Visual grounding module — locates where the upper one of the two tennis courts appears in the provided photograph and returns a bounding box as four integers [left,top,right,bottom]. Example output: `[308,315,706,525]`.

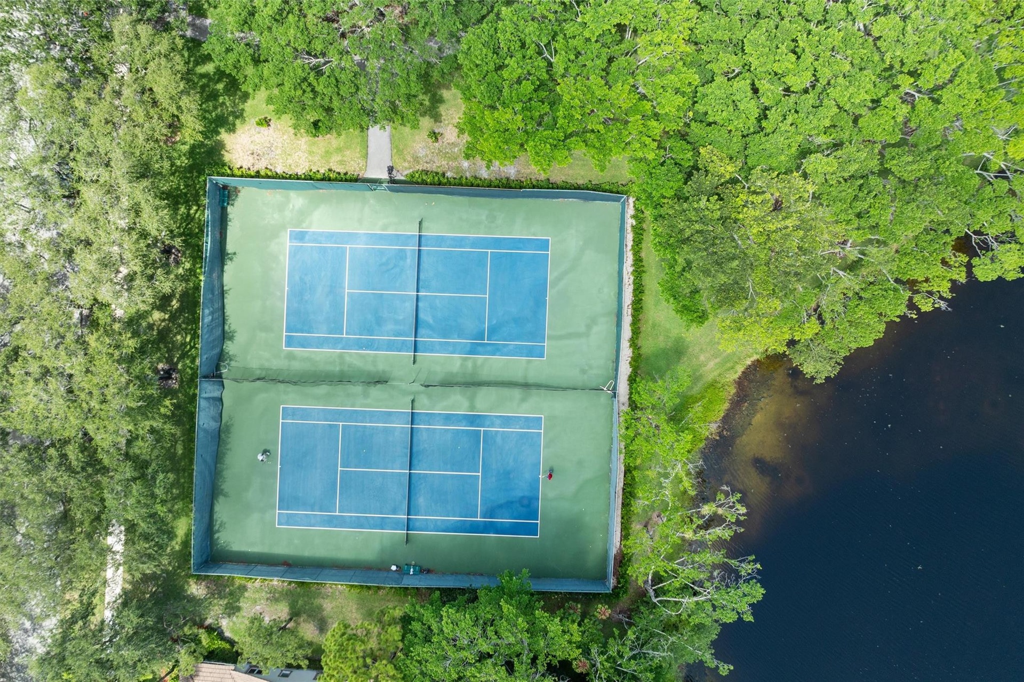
[219,178,619,389]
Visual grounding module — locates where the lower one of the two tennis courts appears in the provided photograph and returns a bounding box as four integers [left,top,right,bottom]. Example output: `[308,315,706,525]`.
[211,376,611,578]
